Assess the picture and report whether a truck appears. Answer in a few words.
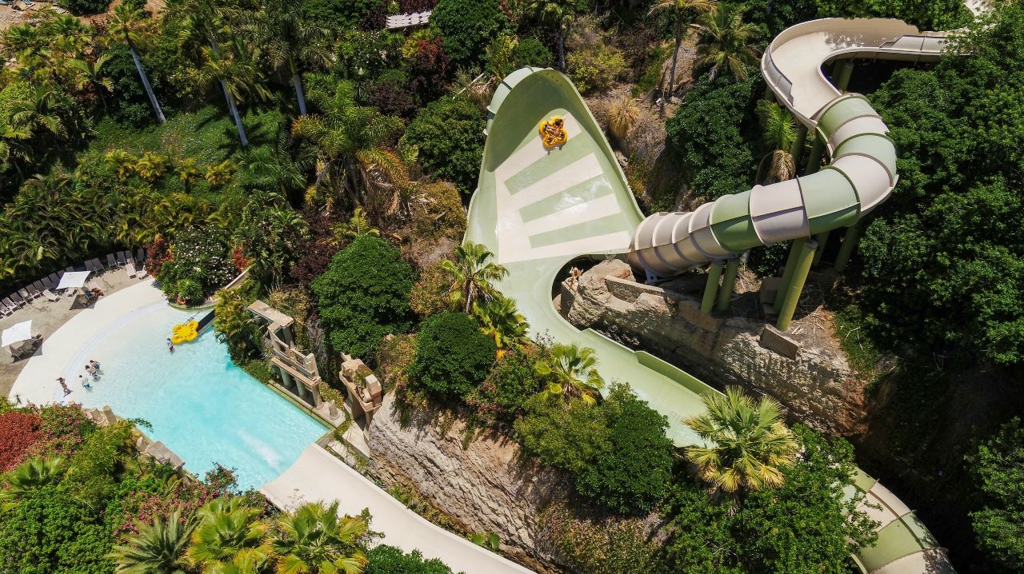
No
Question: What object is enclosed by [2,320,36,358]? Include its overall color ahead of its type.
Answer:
white umbrella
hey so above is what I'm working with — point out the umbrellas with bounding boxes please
[2,320,36,358]
[56,271,90,304]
